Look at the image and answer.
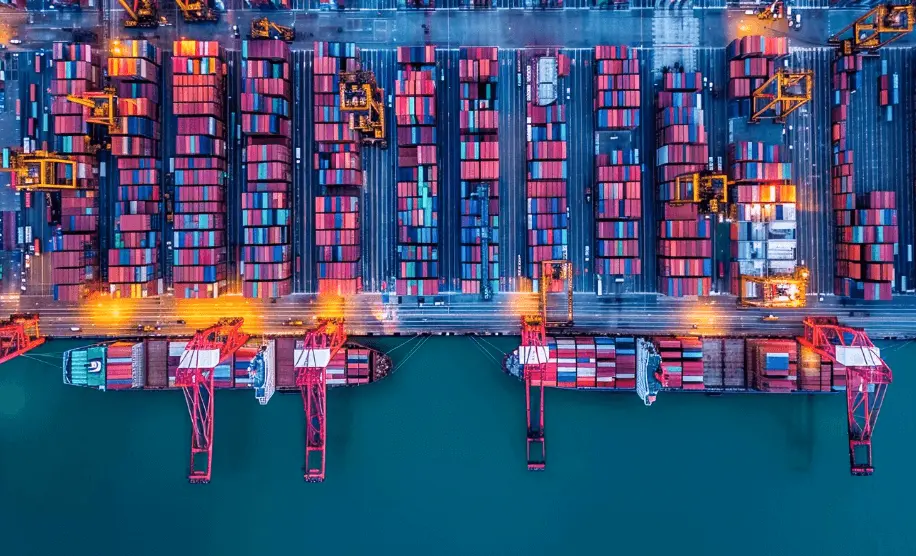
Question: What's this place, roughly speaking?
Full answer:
What you see here is a port.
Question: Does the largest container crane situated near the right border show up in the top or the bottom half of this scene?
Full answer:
You can find the largest container crane situated near the right border in the bottom half.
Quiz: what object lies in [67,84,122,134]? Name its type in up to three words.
container crane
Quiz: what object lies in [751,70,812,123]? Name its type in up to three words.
container crane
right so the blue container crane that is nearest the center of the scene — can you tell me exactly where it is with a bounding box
[475,186,494,297]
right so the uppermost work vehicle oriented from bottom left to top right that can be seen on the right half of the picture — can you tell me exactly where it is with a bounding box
[754,0,784,25]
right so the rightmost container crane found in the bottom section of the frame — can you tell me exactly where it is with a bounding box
[796,313,900,478]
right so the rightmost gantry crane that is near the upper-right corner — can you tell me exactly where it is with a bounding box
[829,4,914,59]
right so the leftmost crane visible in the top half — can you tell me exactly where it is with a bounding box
[0,152,75,192]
